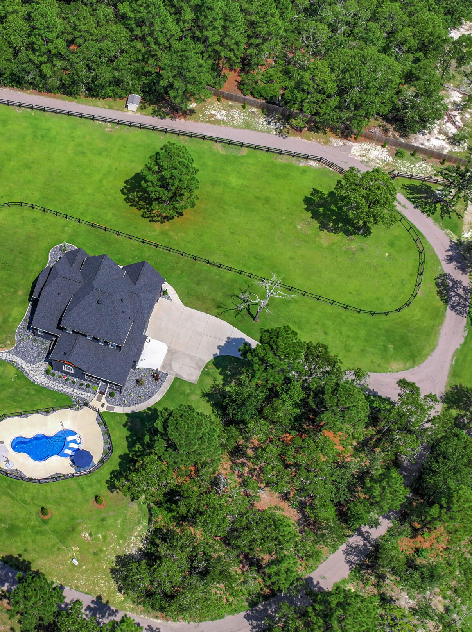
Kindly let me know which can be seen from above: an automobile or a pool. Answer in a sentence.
Of the two, only a pool appears.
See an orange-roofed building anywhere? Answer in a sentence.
No, no orange-roofed building is visible in the view.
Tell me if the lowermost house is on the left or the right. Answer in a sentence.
The lowermost house sits on the left side.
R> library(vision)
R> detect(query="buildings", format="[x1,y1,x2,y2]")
[31,247,166,395]
[126,89,141,112]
